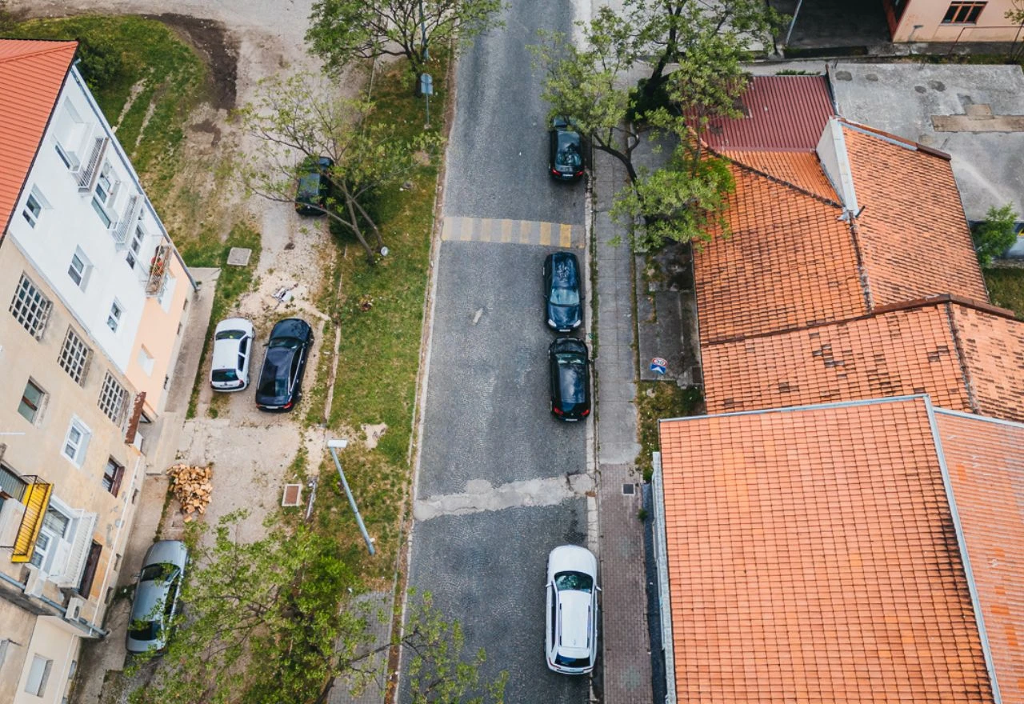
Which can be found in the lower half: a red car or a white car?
white car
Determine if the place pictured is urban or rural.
urban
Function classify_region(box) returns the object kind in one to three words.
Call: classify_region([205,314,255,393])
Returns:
car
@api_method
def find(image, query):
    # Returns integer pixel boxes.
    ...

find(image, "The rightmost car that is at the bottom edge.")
[543,544,602,676]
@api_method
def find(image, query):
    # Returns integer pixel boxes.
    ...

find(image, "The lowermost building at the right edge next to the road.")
[647,392,1024,704]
